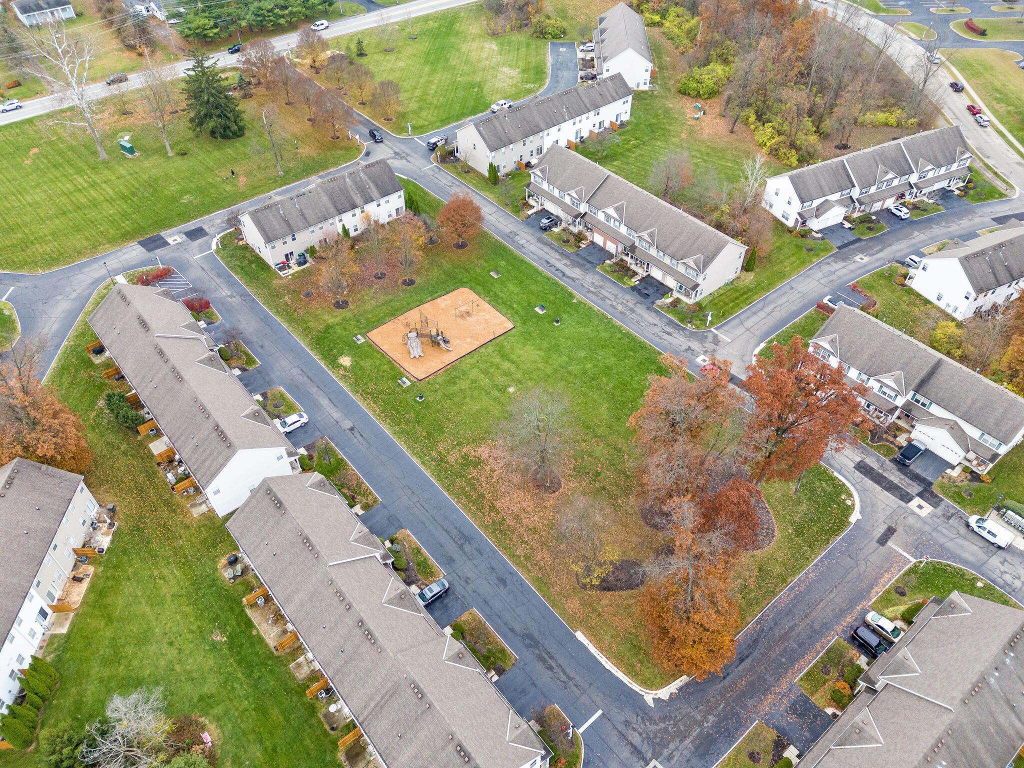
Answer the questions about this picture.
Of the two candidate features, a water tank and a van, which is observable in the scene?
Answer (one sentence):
The one in the frame is a van.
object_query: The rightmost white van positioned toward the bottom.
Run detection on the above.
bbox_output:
[963,513,1023,550]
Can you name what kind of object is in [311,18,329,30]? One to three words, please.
vehicle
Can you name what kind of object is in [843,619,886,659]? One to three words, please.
car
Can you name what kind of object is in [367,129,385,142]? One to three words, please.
vehicle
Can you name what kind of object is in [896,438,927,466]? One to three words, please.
car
